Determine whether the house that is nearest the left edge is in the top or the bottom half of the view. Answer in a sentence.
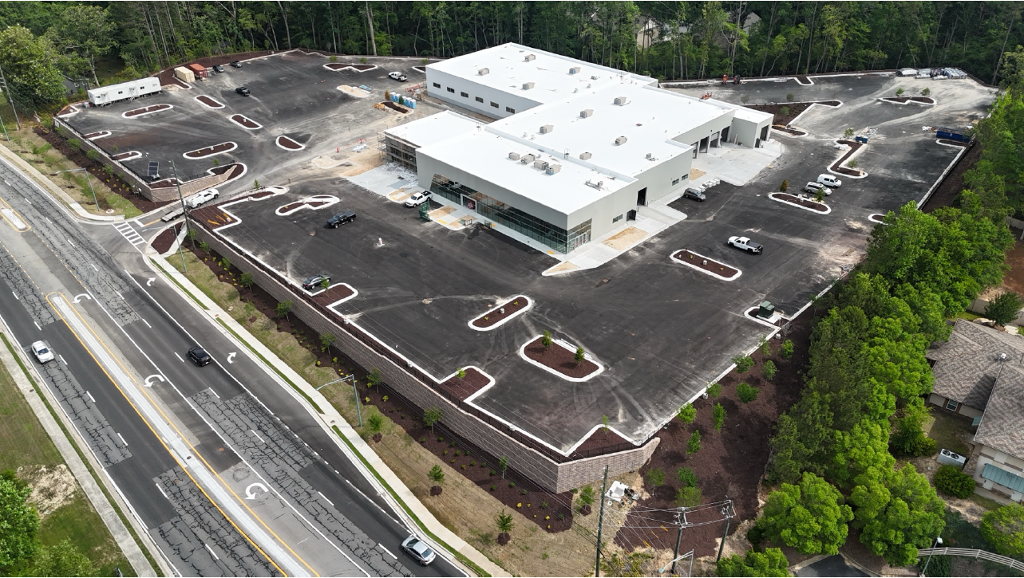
You can find the house that is nearest the left edge in the top half.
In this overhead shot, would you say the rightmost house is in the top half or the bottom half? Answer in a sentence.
You can find the rightmost house in the bottom half.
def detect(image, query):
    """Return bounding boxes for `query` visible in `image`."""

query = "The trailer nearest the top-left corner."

[87,76,160,105]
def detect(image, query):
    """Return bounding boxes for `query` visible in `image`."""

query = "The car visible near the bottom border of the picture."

[398,533,437,565]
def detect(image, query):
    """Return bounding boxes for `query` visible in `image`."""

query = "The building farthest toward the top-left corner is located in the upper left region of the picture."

[55,83,92,107]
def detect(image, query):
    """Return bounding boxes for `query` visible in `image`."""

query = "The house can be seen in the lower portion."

[929,300,1024,481]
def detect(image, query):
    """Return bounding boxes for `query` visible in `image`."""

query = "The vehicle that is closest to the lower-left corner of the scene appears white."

[30,339,51,360]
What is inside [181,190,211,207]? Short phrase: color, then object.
white vehicle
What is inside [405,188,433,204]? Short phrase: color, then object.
white vehicle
